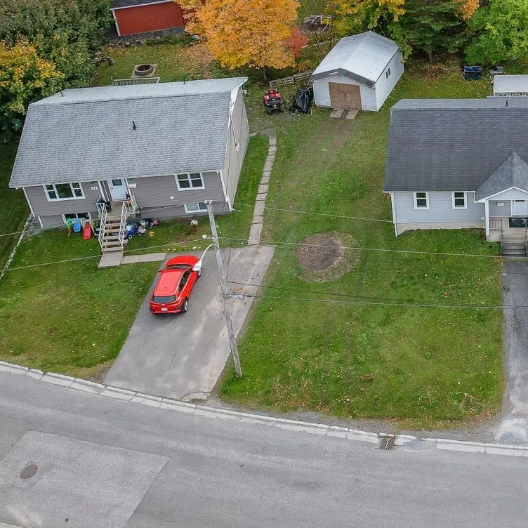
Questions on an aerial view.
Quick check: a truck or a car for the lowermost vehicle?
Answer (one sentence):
The lowermost vehicle appears to be a car.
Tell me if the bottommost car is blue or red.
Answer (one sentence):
From above, the bottommost car appears red.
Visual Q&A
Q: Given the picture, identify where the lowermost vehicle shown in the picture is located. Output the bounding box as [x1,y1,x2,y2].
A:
[143,255,203,321]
